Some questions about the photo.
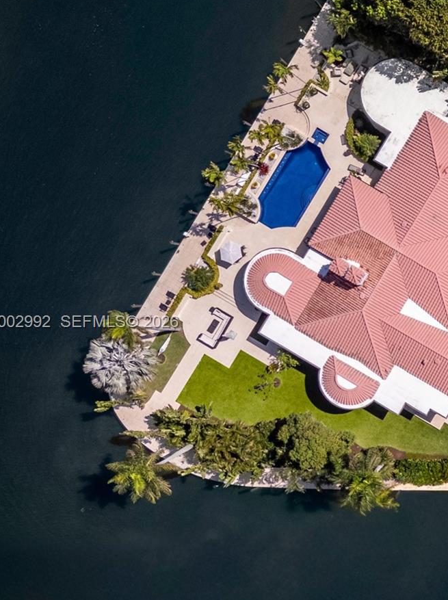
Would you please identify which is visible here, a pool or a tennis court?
pool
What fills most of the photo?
water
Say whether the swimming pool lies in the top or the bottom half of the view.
top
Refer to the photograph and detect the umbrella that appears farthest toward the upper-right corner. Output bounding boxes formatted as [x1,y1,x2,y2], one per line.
[219,240,245,265]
